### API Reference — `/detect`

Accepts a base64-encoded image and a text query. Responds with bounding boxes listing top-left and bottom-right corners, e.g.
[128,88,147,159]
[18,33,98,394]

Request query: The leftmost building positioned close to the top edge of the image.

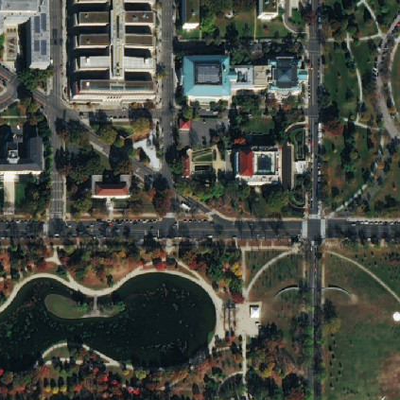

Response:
[0,0,51,67]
